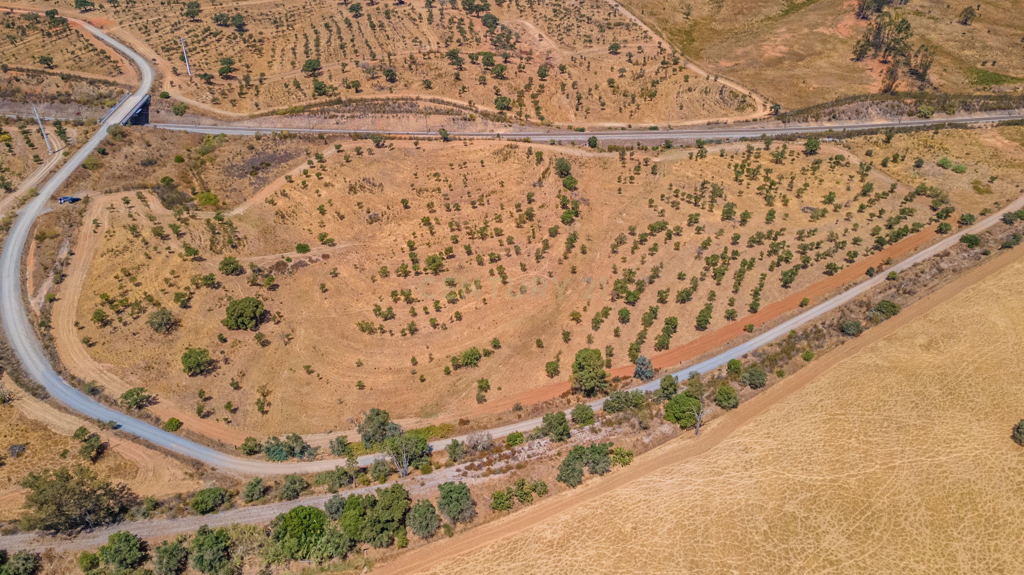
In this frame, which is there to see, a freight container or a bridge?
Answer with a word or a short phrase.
bridge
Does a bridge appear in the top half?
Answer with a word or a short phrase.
Yes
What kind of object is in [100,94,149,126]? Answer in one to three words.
bridge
